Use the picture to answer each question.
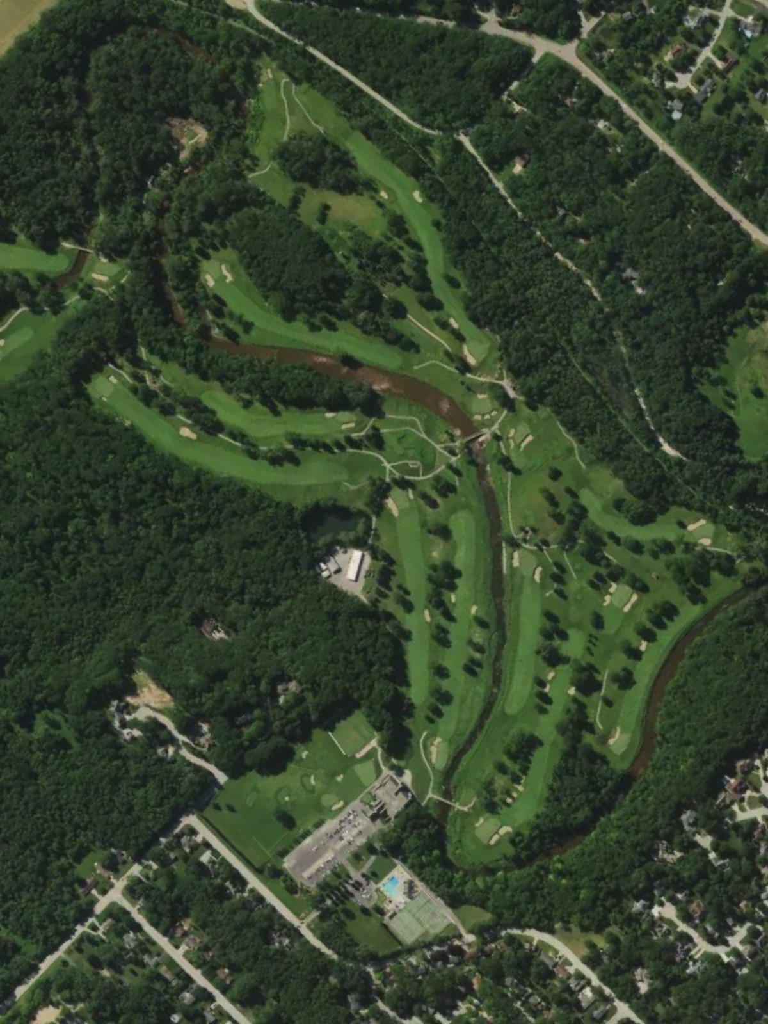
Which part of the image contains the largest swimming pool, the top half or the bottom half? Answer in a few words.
bottom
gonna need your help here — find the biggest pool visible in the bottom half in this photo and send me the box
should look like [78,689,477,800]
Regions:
[378,865,420,911]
